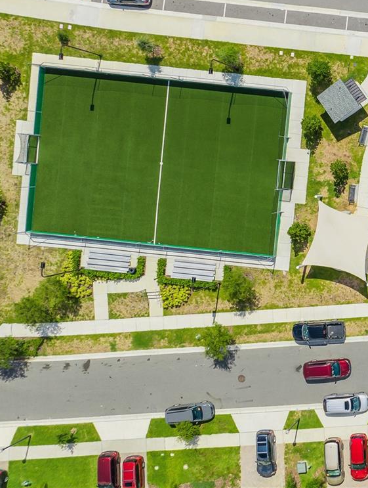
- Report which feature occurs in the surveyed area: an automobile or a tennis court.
automobile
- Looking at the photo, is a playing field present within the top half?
Yes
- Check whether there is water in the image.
No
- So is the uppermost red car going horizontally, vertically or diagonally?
horizontally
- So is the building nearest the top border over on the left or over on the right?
right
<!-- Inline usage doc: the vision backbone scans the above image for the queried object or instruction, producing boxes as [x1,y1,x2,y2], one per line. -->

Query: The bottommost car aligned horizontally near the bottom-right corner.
[324,392,368,414]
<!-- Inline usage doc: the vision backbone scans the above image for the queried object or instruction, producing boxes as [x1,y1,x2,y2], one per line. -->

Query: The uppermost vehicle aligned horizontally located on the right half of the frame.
[293,323,349,345]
